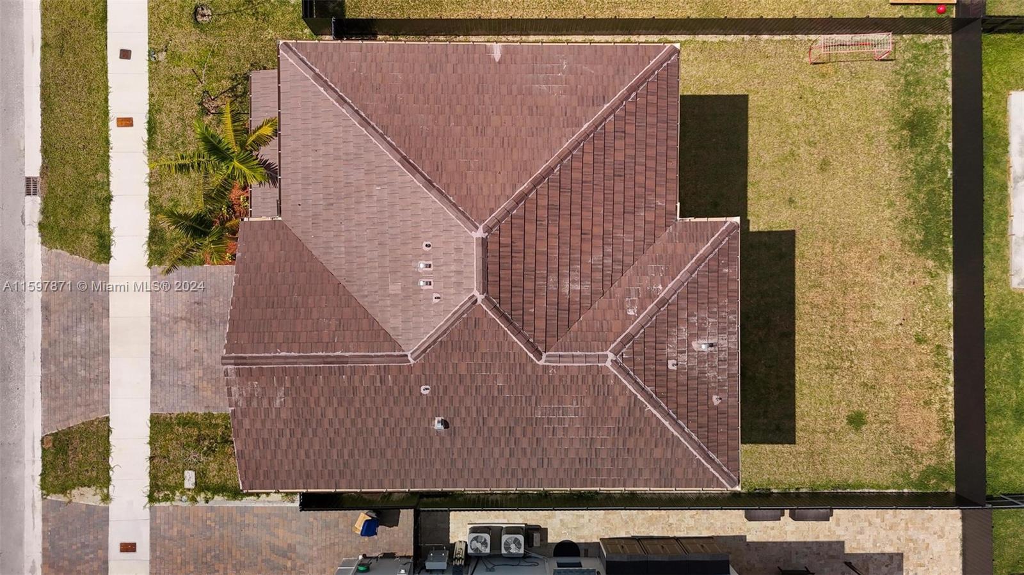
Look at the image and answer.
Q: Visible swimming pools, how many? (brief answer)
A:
0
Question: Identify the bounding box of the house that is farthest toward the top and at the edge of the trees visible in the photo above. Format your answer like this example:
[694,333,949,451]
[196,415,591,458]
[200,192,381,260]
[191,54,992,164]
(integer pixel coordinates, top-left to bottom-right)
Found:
[220,39,743,494]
